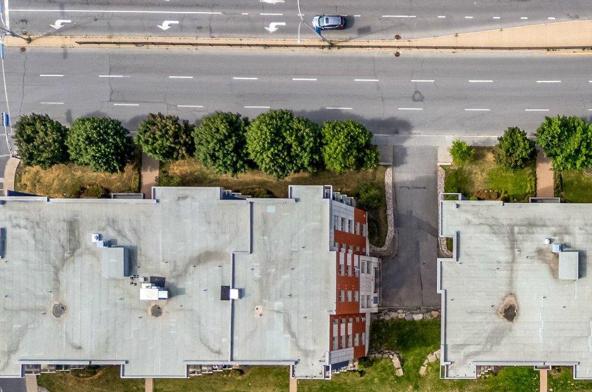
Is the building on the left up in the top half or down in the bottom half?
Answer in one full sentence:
Seen from above, the building on the left lies in the bottom half of the view.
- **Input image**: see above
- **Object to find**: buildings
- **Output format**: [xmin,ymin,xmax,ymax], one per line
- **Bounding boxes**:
[437,192,592,379]
[0,186,384,379]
